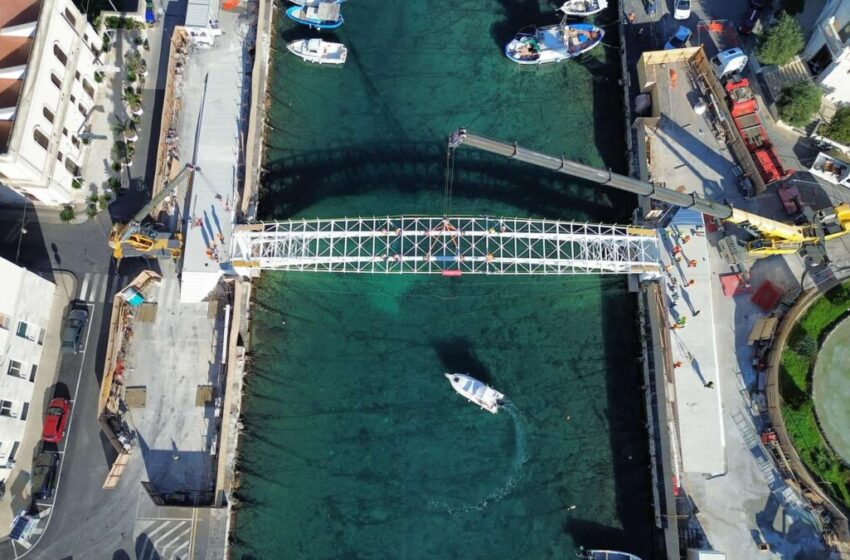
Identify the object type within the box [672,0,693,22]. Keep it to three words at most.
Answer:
car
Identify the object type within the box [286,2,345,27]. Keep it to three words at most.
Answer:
boat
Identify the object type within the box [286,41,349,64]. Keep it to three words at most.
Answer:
boat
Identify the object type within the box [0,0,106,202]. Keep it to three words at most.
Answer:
building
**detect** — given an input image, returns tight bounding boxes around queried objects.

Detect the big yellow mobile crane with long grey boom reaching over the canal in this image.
[442,126,850,285]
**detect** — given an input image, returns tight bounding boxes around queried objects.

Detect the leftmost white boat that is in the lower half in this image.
[445,373,503,414]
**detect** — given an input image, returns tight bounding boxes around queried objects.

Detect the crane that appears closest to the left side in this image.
[107,163,218,273]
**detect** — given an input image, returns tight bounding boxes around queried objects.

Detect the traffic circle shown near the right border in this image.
[778,273,850,497]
